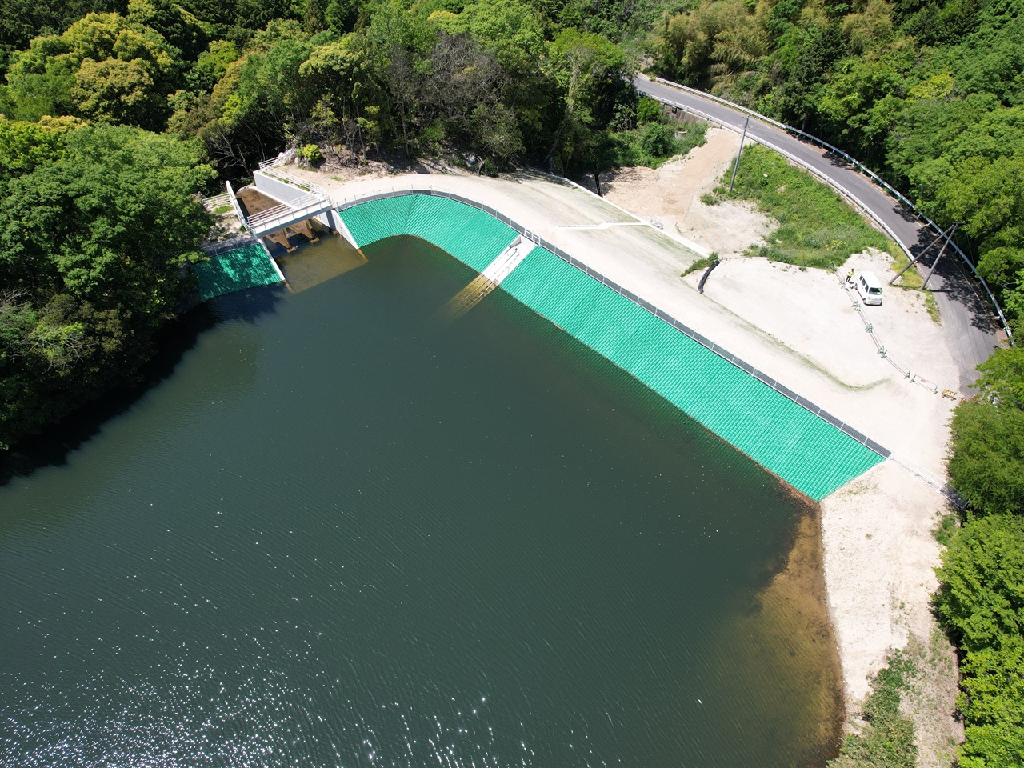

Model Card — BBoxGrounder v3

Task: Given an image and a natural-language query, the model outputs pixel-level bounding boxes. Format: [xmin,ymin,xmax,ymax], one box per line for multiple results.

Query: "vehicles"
[856,268,889,303]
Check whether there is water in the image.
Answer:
Yes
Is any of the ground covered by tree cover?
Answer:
Yes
